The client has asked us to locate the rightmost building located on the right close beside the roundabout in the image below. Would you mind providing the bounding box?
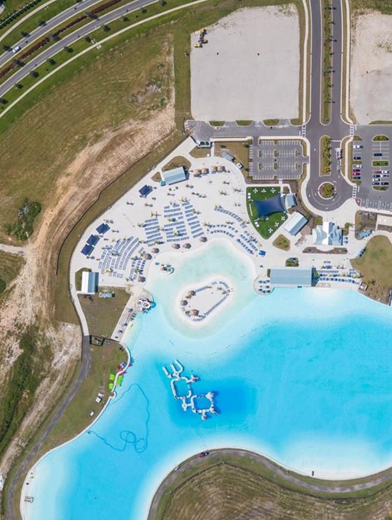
[312,221,343,245]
